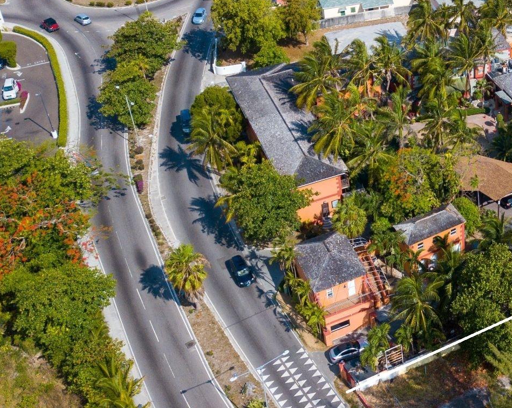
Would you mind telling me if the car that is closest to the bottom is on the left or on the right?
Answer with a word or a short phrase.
right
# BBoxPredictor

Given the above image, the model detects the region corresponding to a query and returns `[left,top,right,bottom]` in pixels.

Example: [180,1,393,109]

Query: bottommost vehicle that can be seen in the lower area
[328,340,369,365]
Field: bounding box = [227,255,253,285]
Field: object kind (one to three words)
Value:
car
